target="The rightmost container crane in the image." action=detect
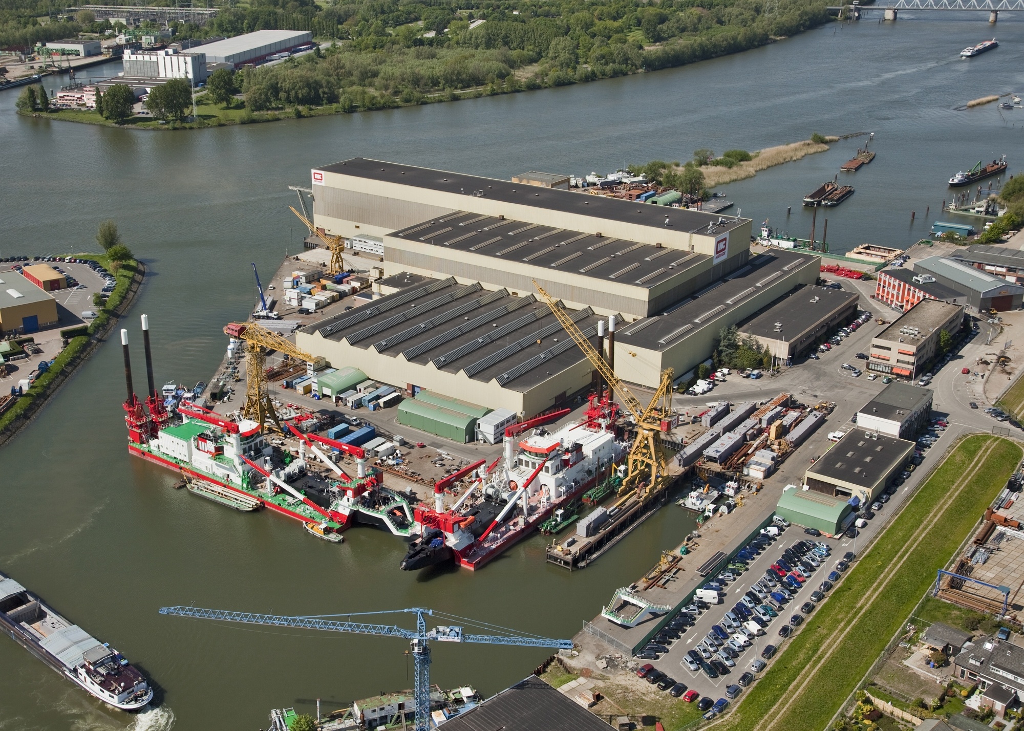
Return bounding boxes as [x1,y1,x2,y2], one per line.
[932,565,1018,617]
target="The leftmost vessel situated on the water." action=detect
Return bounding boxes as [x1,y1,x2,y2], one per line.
[0,601,151,718]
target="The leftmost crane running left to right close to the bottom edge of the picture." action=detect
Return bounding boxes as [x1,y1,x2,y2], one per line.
[157,596,572,731]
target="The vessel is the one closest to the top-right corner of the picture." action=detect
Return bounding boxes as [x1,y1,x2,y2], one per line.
[958,30,1001,56]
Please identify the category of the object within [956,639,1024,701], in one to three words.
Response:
house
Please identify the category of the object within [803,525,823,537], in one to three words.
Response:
vehicle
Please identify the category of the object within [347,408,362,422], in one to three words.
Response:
vehicle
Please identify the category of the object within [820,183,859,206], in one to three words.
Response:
ship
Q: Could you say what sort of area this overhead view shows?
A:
port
